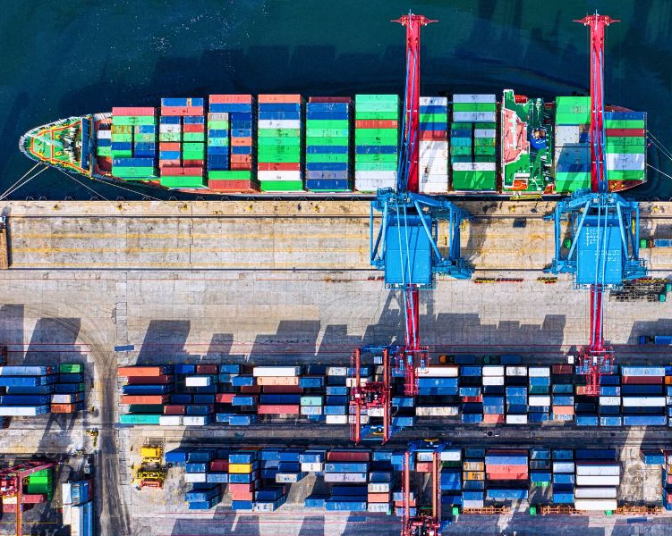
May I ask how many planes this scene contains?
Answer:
none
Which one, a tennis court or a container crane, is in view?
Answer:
container crane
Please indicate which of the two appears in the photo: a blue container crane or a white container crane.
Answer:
blue container crane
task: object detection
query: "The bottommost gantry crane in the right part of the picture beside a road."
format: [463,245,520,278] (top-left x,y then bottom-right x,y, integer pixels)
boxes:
[399,442,454,536]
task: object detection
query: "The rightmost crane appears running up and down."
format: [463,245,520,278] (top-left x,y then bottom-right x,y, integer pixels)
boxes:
[536,2,657,395]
